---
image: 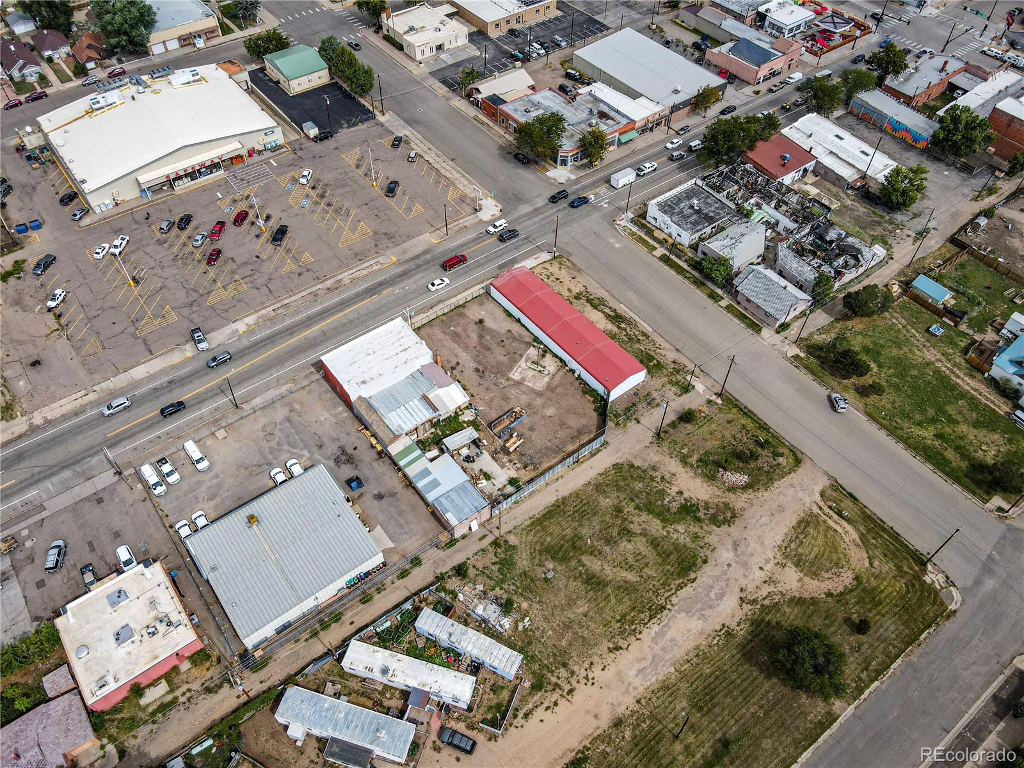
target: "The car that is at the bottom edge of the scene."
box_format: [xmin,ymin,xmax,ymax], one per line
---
[438,726,478,755]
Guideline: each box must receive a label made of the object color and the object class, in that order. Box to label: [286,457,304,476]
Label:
white vehicle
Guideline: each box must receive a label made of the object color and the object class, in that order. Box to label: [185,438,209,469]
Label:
white truck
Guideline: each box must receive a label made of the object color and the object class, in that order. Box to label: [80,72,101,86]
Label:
gray car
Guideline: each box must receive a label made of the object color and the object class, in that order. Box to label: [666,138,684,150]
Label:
white vehicle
